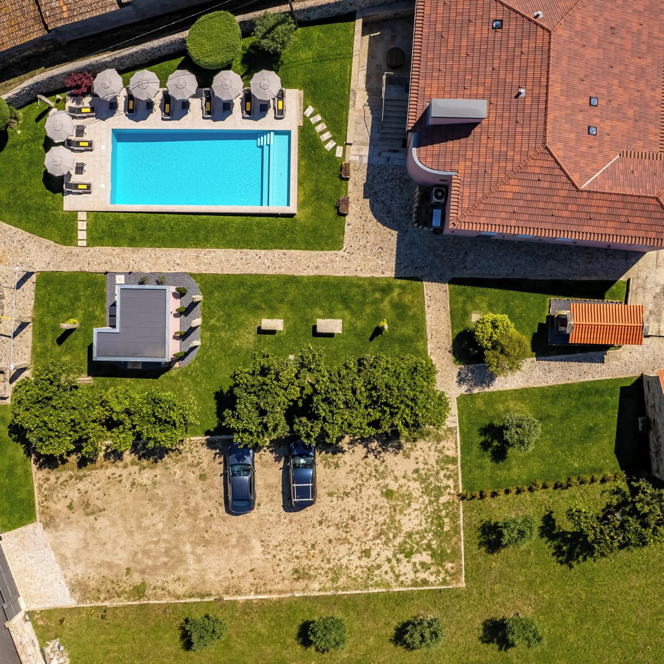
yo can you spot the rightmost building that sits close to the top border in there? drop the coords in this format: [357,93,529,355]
[404,0,664,250]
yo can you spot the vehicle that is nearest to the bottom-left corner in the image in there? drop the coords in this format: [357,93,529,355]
[225,444,257,514]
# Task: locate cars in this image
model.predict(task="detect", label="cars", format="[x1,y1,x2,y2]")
[286,440,318,511]
[225,444,257,514]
